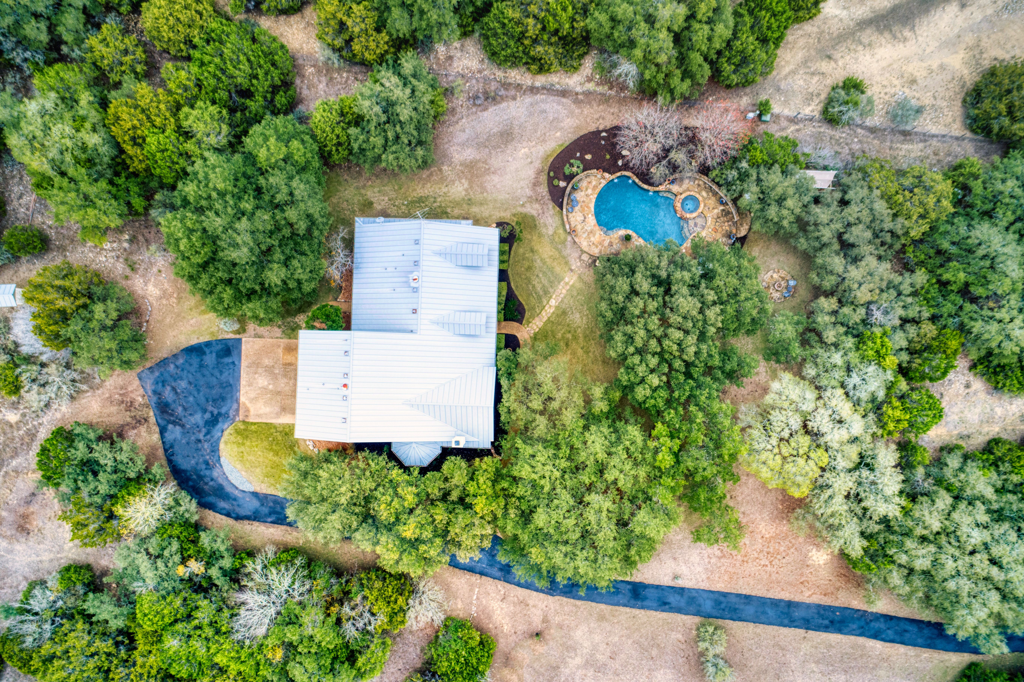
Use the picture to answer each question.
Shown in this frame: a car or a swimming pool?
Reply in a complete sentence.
Looking from above, you can make out a swimming pool.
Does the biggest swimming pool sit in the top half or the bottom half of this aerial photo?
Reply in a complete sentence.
Seen from above, the biggest swimming pool lies in the top half of the view.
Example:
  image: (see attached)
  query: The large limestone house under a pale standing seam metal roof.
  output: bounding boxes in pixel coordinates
[294,208,502,467]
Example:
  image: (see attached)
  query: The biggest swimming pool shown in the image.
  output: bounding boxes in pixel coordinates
[591,170,709,256]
